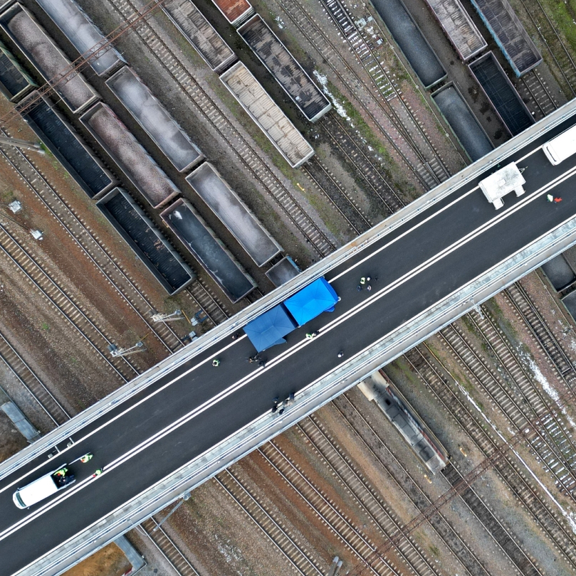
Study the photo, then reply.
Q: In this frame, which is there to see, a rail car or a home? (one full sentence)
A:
The one in the frame is a rail car.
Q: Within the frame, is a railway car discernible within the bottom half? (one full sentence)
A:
Yes, a railway car is visible within the bottom half.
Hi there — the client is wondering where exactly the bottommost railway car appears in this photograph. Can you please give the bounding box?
[356,369,454,476]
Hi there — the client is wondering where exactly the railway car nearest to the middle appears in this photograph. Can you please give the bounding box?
[266,256,304,288]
